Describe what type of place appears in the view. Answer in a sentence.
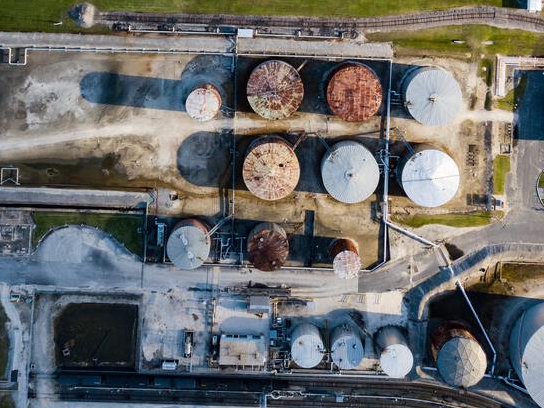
This looks like an industrial area.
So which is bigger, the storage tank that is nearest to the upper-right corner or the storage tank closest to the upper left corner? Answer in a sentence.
The storage tank that is nearest to the upper-right corner takes up more space than the storage tank closest to the upper left corner.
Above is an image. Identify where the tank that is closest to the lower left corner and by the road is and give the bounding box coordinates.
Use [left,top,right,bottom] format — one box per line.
[167,216,213,270]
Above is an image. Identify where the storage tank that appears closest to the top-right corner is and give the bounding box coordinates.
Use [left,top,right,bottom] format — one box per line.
[399,64,463,126]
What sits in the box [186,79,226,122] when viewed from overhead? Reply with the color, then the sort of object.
white storage tank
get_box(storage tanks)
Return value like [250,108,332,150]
[396,141,459,207]
[318,136,379,202]
[373,324,414,378]
[290,319,326,367]
[328,319,364,368]
[399,64,463,126]
[167,216,213,270]
[186,79,226,122]
[247,221,290,272]
[324,61,383,121]
[509,301,544,407]
[428,318,488,389]
[242,133,302,198]
[246,57,307,119]
[329,237,361,279]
